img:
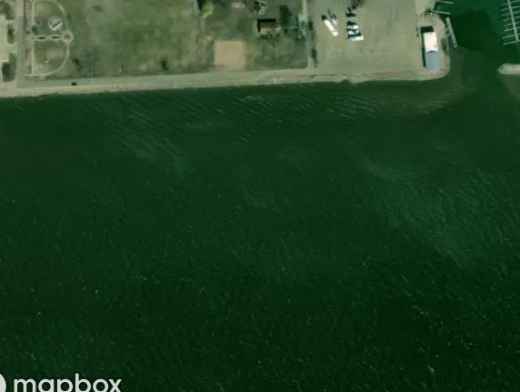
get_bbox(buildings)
[258,20,277,34]
[423,32,441,72]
